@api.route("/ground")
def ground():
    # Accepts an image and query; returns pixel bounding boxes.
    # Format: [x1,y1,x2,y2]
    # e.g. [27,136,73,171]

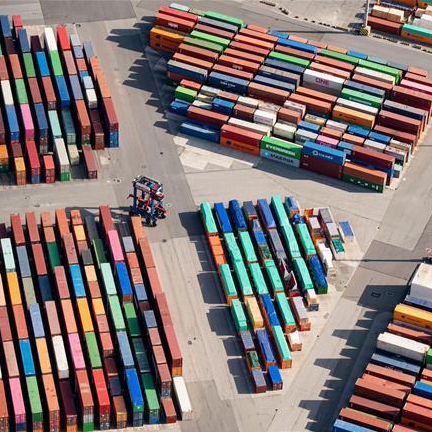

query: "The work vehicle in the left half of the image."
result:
[133,170,169,227]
